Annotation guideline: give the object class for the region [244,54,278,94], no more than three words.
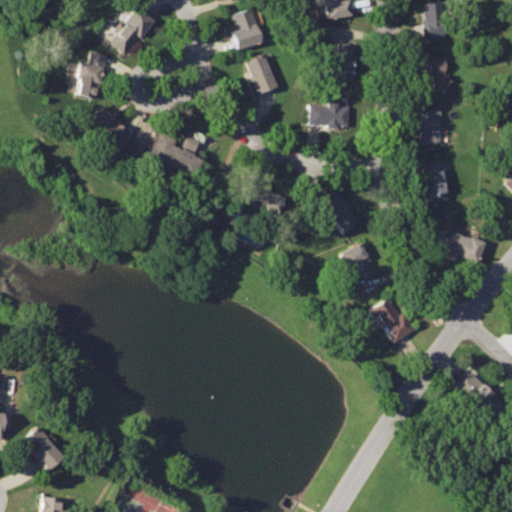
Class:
house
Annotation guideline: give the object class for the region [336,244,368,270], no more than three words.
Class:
house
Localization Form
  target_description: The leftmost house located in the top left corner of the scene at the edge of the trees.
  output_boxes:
[68,52,103,98]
